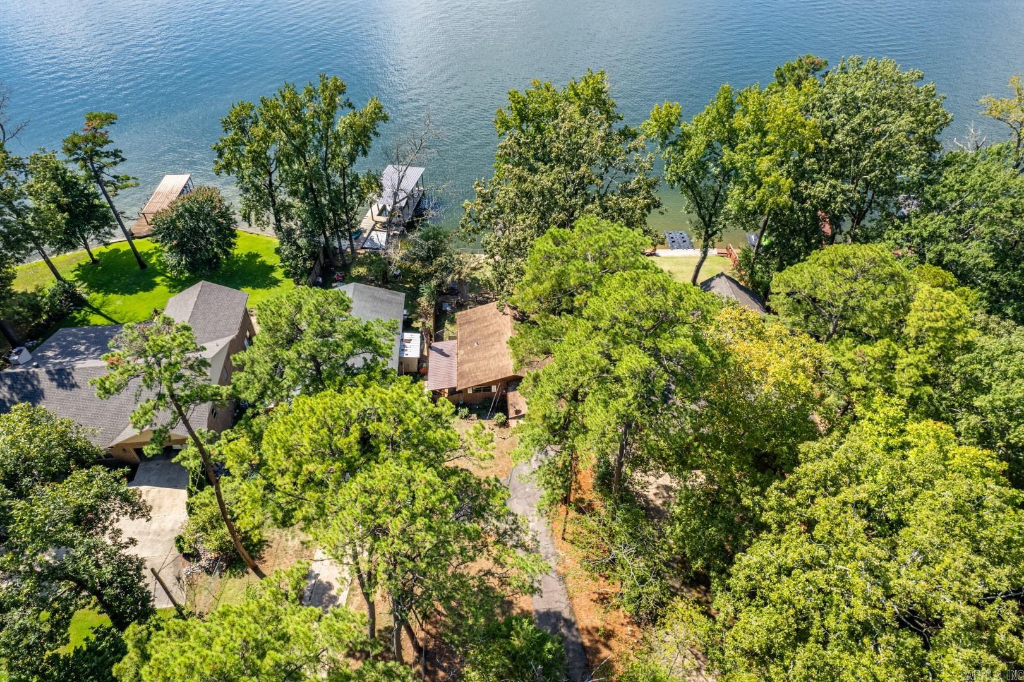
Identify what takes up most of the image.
trees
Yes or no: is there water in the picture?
Yes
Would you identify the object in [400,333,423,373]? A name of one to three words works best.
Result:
shed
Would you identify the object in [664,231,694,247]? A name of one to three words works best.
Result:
pier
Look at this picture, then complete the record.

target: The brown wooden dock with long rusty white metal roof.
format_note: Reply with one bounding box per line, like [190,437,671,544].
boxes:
[131,175,198,236]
